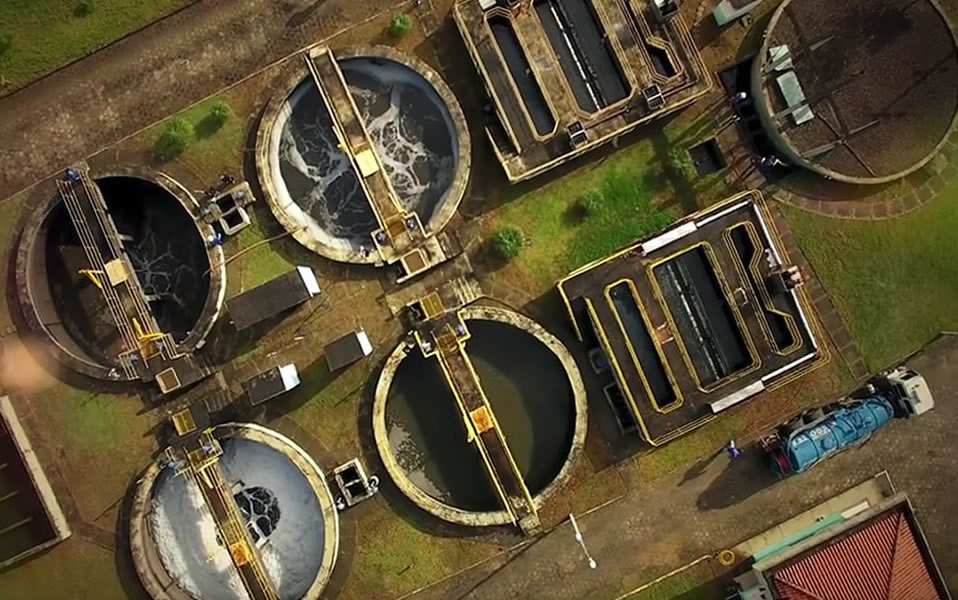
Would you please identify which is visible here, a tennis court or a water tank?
water tank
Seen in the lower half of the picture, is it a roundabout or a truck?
truck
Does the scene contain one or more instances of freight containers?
No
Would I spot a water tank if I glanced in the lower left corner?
Yes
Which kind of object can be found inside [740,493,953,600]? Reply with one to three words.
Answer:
house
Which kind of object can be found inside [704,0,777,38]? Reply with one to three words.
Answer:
shed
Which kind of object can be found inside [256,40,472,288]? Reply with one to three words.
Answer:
water tank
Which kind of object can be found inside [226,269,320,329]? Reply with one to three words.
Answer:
shed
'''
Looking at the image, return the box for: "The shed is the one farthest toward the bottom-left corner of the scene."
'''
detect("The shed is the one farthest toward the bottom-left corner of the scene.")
[247,364,298,406]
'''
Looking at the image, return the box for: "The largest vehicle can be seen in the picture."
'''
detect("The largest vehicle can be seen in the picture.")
[736,363,938,479]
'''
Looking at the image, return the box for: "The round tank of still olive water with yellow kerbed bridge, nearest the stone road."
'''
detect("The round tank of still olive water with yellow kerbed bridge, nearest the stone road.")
[372,276,588,532]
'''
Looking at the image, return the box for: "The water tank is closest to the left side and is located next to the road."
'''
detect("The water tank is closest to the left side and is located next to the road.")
[12,158,233,404]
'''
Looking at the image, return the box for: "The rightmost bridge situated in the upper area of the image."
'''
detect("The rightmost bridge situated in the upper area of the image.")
[302,40,408,228]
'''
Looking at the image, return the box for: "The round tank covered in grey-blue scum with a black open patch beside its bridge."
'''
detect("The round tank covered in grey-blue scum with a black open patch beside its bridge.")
[129,385,343,600]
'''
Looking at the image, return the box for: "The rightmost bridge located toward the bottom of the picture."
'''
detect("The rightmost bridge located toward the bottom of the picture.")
[433,344,541,532]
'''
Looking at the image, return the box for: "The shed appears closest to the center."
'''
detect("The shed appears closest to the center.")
[324,330,370,372]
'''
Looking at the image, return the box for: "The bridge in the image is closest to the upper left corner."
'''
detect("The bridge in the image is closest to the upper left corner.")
[50,158,164,346]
